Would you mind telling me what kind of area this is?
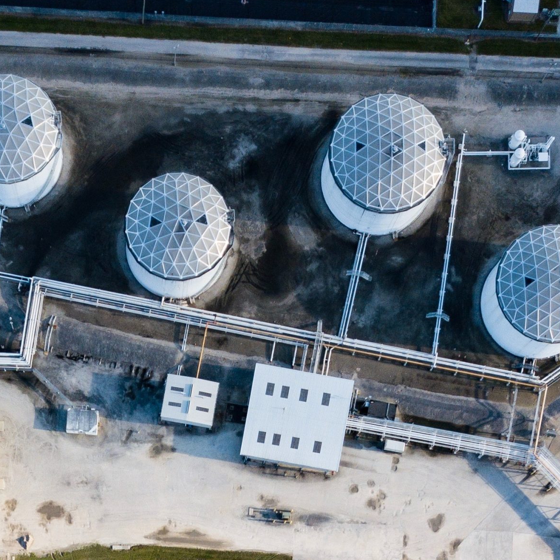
industrial area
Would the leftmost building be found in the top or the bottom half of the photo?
bottom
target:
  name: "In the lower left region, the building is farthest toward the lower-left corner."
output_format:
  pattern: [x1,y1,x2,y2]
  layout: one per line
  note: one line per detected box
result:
[67,404,101,438]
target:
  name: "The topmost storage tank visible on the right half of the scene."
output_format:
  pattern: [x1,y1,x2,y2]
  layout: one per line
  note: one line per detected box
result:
[320,93,459,235]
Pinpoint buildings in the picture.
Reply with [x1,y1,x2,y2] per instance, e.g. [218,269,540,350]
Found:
[160,374,220,431]
[67,404,101,438]
[239,363,353,480]
[505,0,537,25]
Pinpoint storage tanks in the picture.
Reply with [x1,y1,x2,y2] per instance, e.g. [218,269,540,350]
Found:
[320,93,459,235]
[0,73,70,208]
[479,226,560,358]
[125,173,244,299]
